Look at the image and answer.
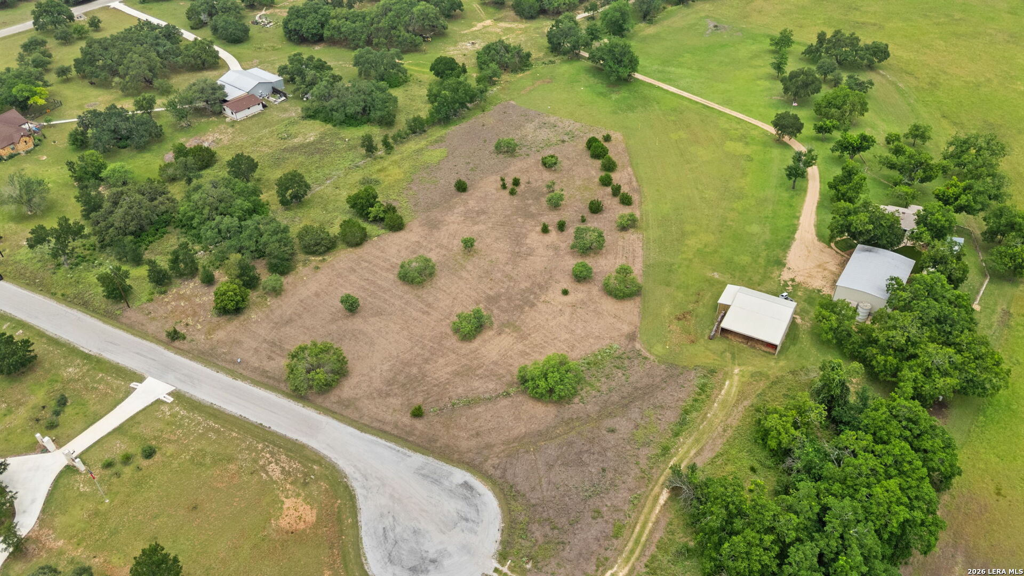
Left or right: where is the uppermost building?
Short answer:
left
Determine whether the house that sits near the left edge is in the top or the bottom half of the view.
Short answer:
top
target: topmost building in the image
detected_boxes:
[216,68,283,101]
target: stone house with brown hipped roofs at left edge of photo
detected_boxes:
[0,112,46,155]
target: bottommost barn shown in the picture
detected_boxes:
[717,286,799,355]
